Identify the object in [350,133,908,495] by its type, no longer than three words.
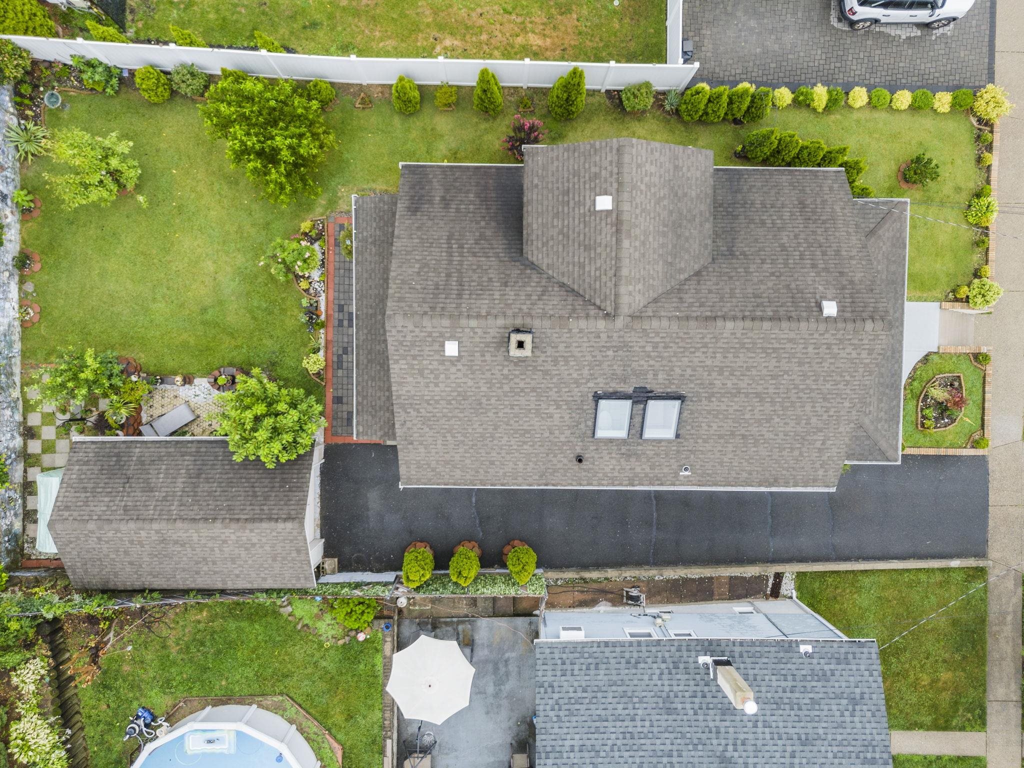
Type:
house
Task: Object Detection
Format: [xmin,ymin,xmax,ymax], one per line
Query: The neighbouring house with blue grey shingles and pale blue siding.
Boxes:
[534,604,892,768]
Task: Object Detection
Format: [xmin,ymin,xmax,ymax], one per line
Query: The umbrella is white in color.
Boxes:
[386,635,475,751]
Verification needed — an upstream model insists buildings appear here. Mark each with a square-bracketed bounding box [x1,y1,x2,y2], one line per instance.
[350,133,908,495]
[534,604,892,768]
[47,437,325,589]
